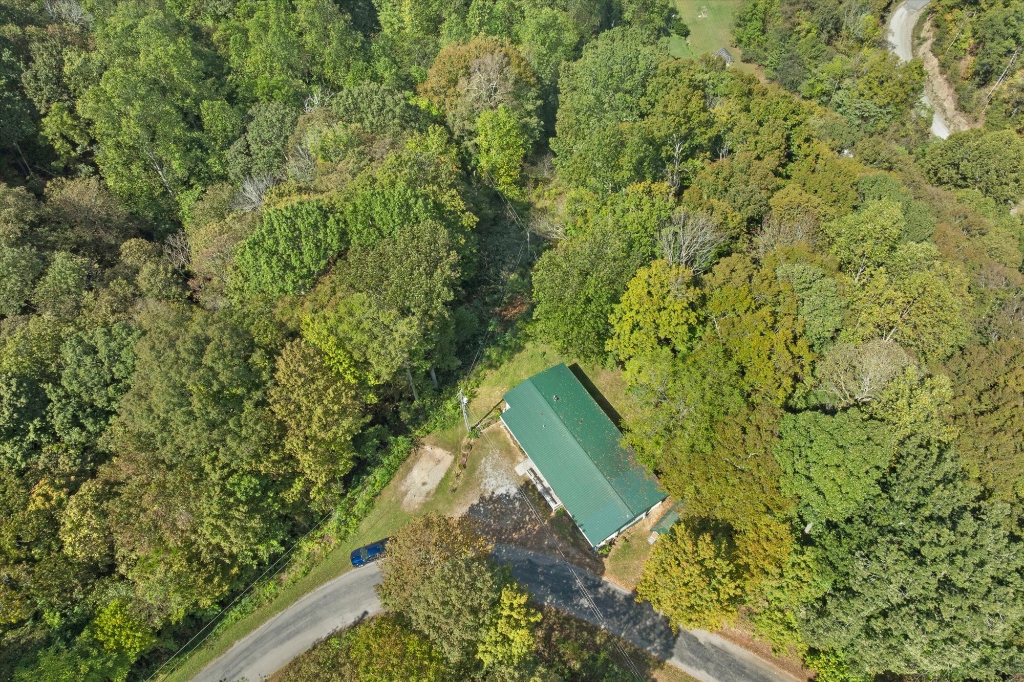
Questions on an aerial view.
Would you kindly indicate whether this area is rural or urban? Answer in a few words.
rural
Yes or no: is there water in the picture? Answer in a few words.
No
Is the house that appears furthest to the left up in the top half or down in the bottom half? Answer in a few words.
bottom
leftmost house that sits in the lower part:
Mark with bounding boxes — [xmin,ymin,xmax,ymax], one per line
[499,363,670,557]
